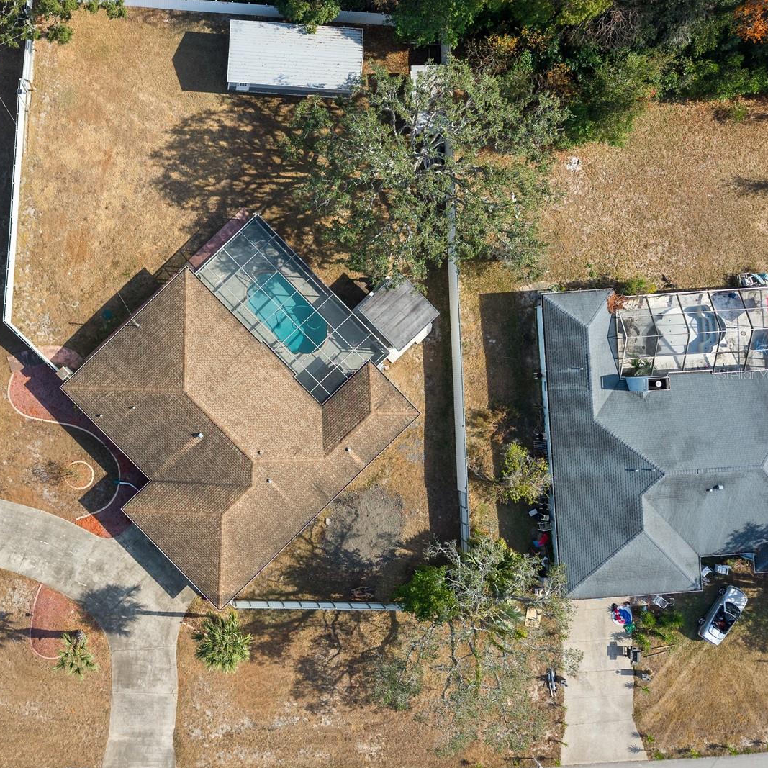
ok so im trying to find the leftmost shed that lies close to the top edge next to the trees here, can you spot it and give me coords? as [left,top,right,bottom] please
[227,19,363,101]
